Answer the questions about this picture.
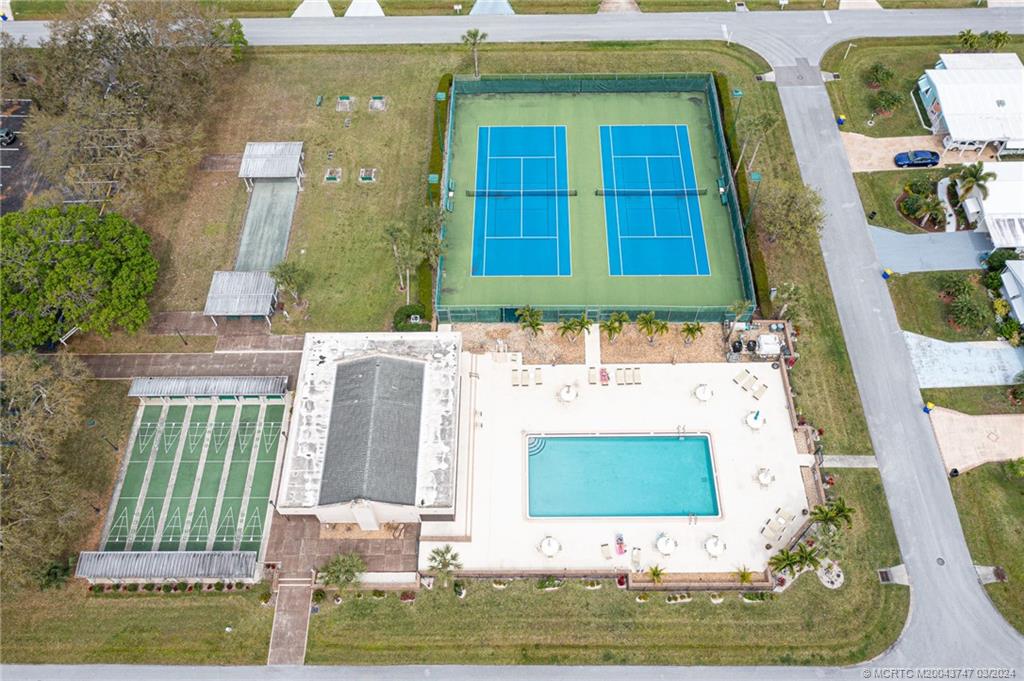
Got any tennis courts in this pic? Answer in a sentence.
Yes, there is a tennis court in the image.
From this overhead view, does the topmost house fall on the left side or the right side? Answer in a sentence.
It is on the right.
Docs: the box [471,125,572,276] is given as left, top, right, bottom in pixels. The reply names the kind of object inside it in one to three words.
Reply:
tennis court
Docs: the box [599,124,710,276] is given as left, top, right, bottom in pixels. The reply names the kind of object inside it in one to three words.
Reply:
tennis court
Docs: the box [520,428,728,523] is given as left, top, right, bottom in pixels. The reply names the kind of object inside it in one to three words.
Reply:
swimming pool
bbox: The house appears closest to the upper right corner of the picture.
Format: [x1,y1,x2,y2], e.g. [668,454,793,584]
[916,53,1024,156]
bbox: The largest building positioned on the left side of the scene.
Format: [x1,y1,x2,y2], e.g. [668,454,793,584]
[276,332,463,531]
